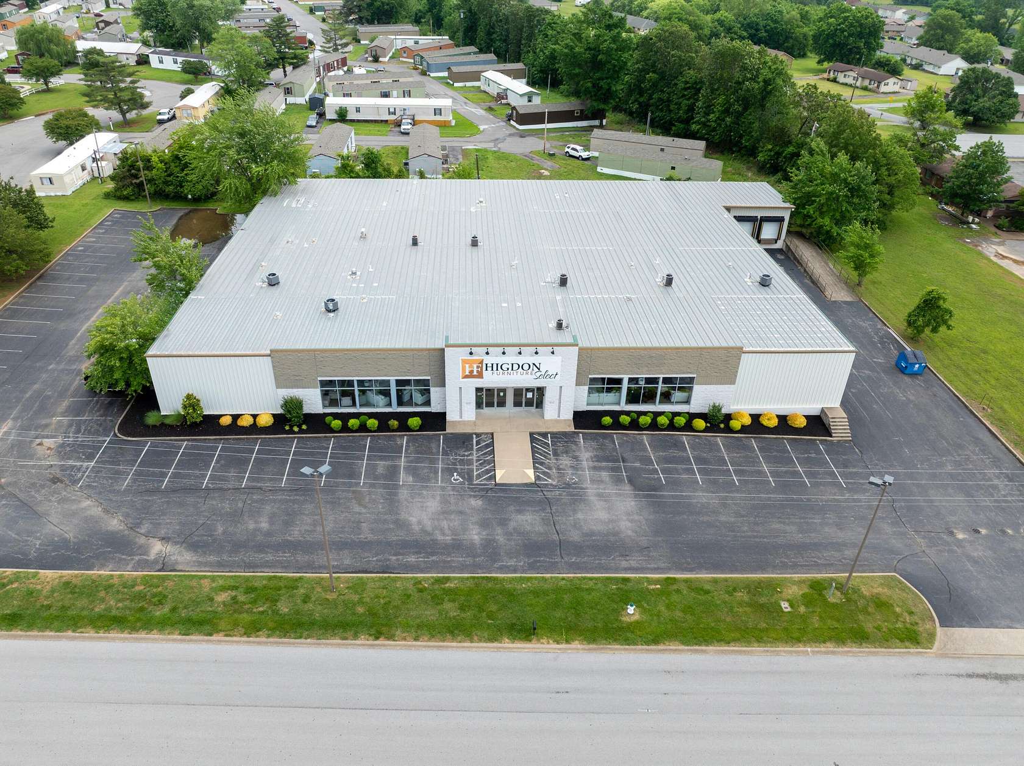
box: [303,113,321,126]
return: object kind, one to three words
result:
vehicle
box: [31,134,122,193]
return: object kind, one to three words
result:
house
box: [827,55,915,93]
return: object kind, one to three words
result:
house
